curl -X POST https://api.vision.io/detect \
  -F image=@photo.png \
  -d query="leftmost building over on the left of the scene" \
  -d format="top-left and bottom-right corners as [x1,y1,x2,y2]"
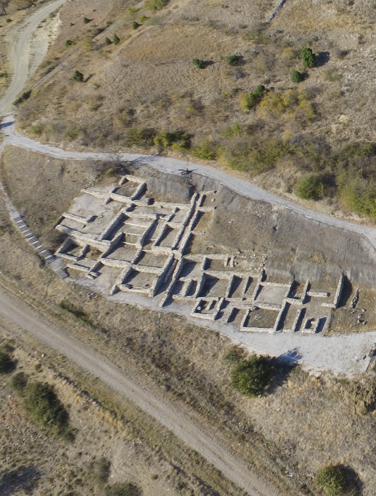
[55,238,102,282]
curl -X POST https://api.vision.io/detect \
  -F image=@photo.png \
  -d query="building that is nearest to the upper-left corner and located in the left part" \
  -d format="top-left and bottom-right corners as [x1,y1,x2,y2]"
[80,175,152,207]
